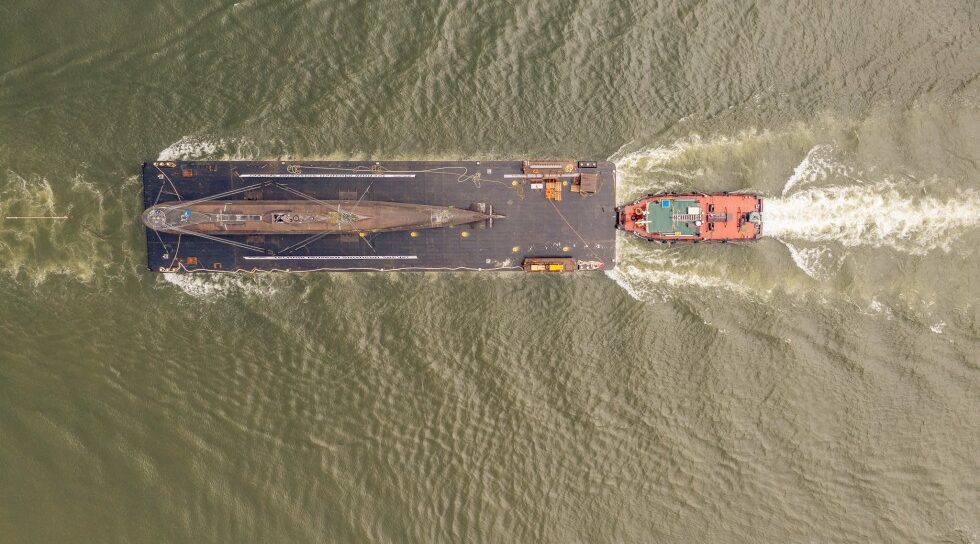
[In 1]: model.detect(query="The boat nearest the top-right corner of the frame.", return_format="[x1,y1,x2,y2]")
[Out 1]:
[614,192,763,243]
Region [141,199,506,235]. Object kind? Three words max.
ship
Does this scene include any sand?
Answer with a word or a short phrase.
No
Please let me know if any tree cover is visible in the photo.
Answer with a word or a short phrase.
No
